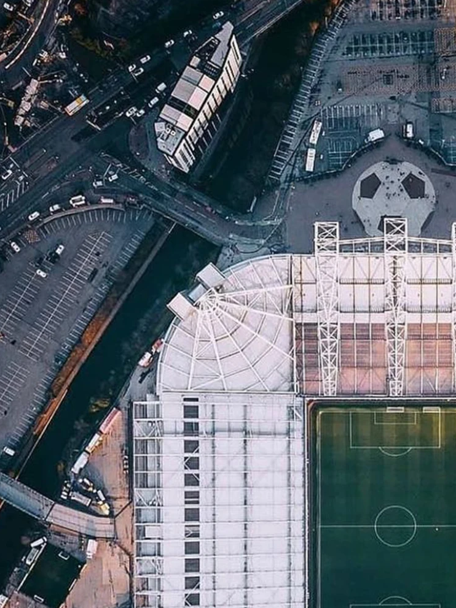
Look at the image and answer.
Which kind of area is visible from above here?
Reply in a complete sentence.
What you see here is a sports ground.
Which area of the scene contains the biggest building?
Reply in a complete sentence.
You can find the biggest building in the top area of the picture.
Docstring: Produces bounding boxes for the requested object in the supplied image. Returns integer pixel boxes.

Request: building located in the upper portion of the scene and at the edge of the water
[154,20,242,175]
